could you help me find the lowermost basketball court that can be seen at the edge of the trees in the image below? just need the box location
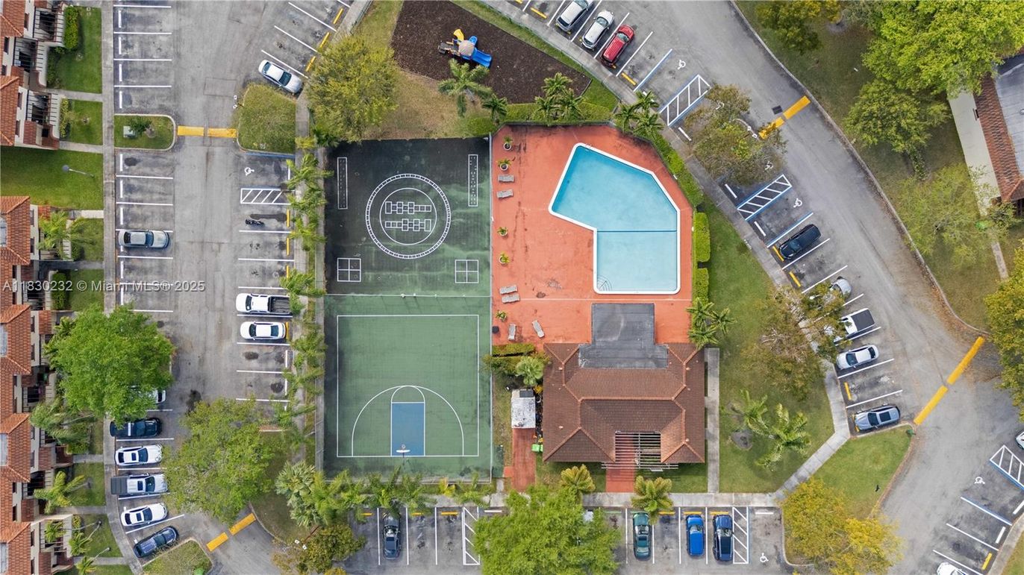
[323,295,491,479]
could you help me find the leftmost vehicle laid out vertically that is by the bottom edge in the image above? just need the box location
[380,510,402,559]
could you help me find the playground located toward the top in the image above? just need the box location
[438,27,493,67]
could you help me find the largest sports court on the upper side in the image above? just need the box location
[324,138,491,295]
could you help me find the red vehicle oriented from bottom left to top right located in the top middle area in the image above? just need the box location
[600,22,637,69]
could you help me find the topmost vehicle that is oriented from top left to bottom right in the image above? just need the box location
[258,58,305,95]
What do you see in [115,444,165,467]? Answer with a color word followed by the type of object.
white car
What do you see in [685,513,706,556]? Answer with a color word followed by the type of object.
blue car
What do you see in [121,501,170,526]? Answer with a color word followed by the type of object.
white car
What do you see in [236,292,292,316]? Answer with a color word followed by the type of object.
white truck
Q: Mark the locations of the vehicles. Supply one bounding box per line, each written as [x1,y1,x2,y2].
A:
[933,560,967,575]
[833,342,880,370]
[258,58,305,95]
[600,22,637,69]
[630,510,653,559]
[810,274,855,307]
[775,223,823,261]
[241,320,288,342]
[121,501,170,526]
[115,444,165,467]
[685,513,706,556]
[131,525,182,560]
[710,512,734,561]
[243,217,263,225]
[109,416,164,441]
[109,472,171,497]
[119,227,171,250]
[380,510,402,559]
[236,292,292,316]
[554,0,595,37]
[817,309,876,346]
[851,404,901,432]
[581,9,615,51]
